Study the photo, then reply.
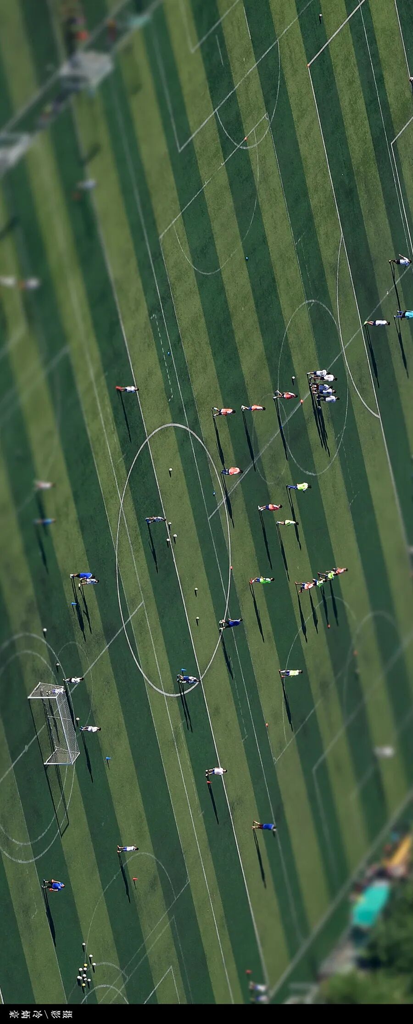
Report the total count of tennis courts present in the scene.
0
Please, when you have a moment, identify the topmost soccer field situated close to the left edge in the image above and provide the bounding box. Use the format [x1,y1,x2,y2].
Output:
[0,0,126,133]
